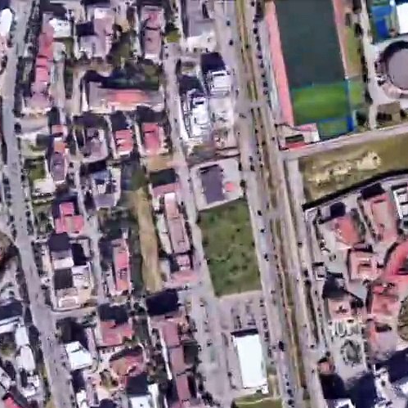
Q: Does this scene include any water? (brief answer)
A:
No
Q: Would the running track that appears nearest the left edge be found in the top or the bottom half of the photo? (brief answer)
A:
top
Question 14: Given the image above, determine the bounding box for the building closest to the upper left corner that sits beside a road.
[0,9,13,41]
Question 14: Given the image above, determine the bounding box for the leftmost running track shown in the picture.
[264,0,293,124]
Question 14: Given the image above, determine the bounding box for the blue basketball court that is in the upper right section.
[373,0,396,40]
